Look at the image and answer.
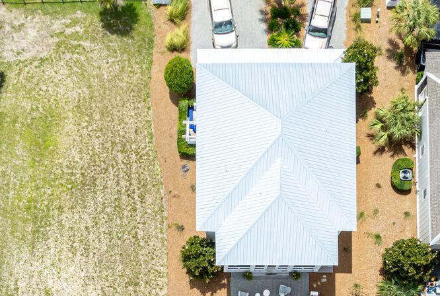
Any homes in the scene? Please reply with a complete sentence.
Yes, I can see a home in this picture.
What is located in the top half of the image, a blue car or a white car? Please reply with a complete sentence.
There is a white car in the top half of the image.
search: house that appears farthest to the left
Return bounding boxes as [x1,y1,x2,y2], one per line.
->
[178,49,358,286]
